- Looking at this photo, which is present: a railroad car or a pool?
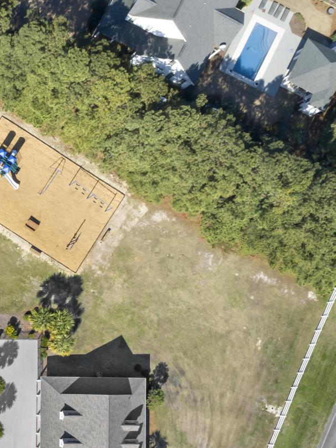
pool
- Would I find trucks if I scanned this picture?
No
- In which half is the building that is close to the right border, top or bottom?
top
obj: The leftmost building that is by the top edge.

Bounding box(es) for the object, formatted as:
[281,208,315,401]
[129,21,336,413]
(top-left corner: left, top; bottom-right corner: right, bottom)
[92,0,251,91]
